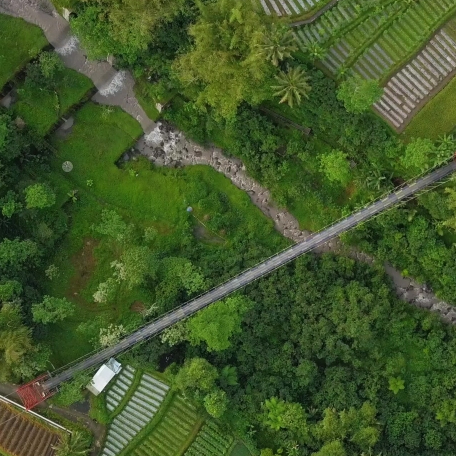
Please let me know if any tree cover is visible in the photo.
Yes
